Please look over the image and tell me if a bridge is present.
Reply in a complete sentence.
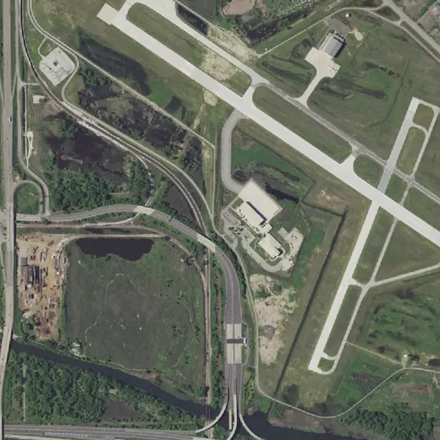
Yes, the frame does contain a bridge.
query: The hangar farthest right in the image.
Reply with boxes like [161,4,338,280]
[320,35,345,57]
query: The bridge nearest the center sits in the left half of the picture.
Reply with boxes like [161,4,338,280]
[95,203,223,256]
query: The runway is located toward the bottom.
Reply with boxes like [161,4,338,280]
[308,200,378,372]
